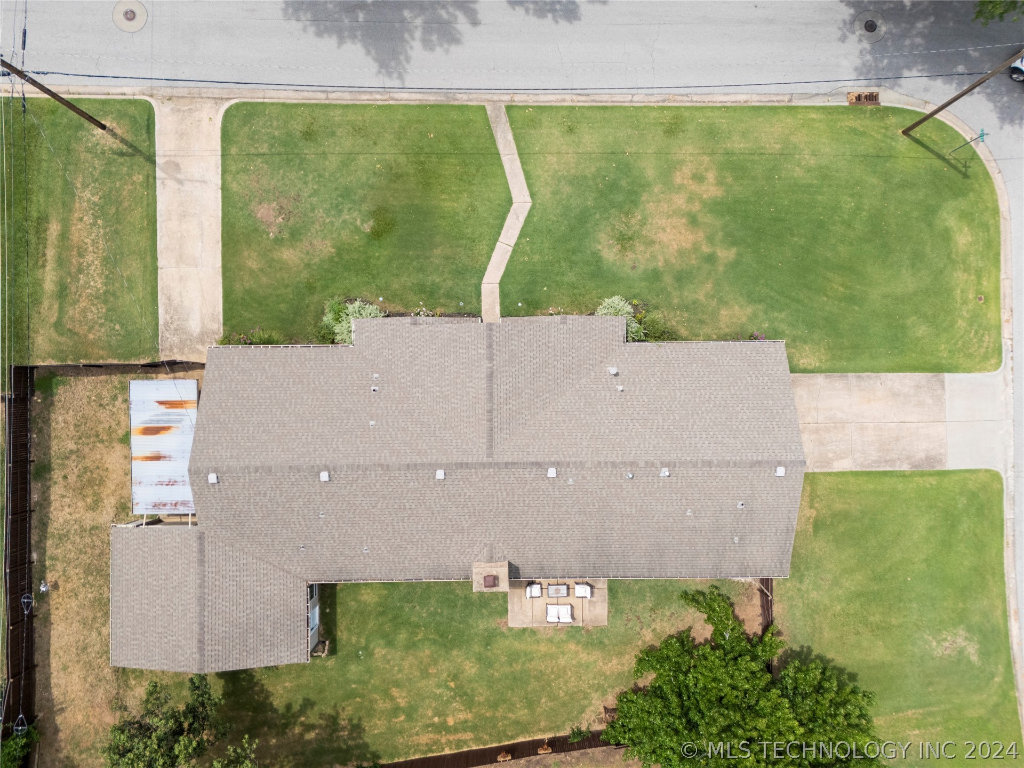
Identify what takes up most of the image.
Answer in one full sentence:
The largest share of the image is taken up by grass.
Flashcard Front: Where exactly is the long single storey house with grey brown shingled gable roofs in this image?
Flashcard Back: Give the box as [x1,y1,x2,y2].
[111,315,805,673]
